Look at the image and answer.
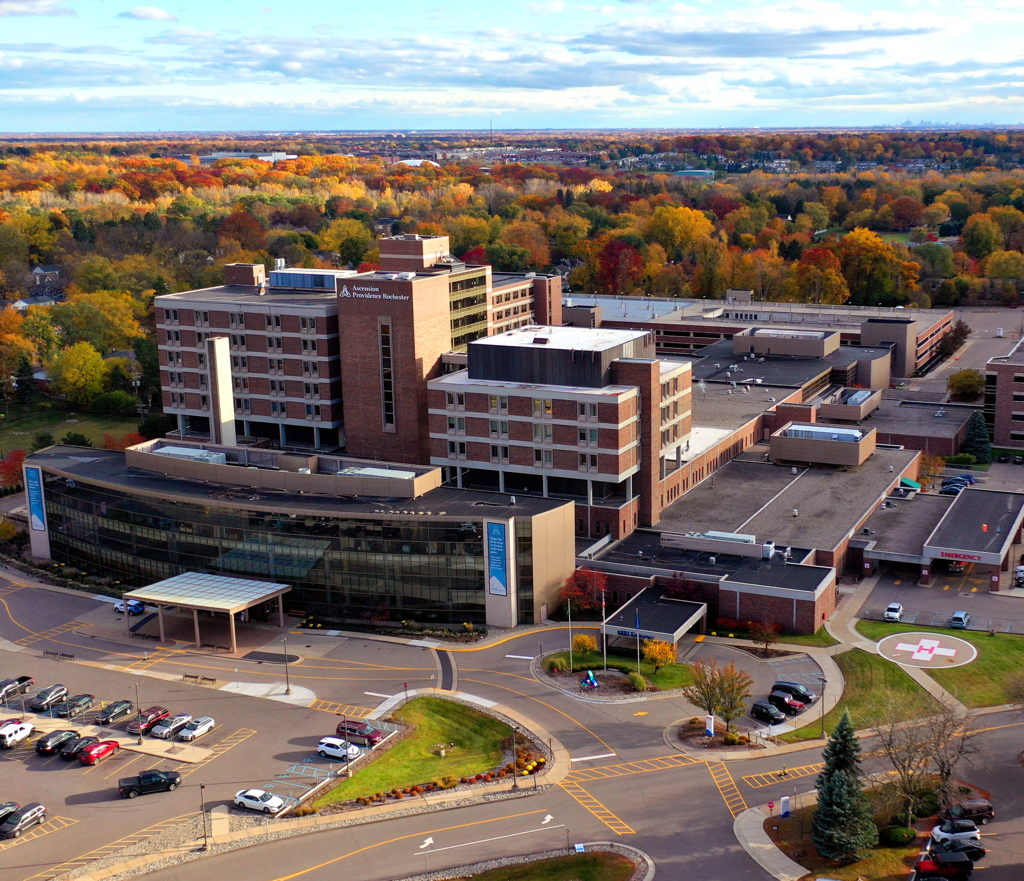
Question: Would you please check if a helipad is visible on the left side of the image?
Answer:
No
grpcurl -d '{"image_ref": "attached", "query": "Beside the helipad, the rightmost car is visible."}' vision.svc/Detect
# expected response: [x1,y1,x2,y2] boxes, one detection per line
[950,609,971,627]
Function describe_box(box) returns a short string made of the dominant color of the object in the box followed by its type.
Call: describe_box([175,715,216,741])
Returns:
white car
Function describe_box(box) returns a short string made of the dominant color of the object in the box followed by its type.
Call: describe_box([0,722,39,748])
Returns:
white car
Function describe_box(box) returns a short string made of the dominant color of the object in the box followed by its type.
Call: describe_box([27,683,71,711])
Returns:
gray car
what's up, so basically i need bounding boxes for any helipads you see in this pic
[875,630,980,669]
